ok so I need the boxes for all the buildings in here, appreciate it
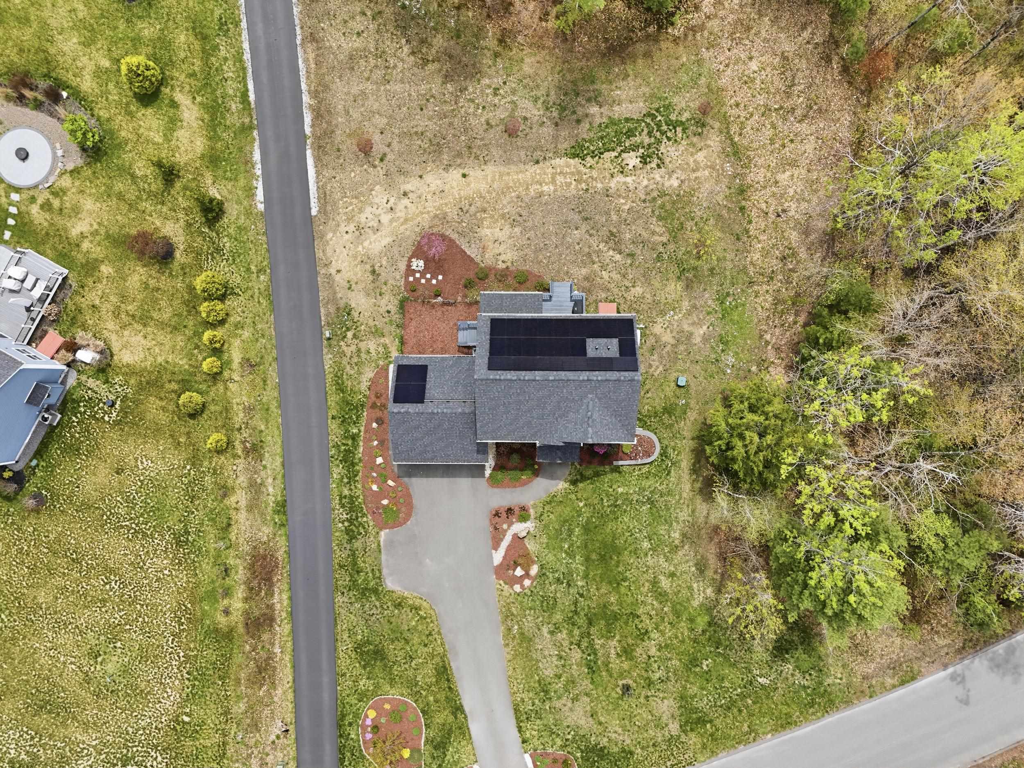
[0,335,65,464]
[391,290,645,464]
